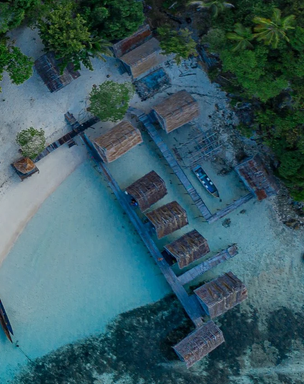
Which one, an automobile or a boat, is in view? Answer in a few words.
boat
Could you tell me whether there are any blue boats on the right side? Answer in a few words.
Yes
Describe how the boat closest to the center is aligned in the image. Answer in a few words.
diagonally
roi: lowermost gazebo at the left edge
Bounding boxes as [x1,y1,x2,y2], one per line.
[2,150,35,182]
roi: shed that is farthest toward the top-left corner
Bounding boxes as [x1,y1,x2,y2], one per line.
[34,55,78,97]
